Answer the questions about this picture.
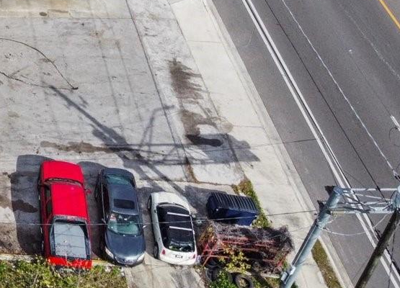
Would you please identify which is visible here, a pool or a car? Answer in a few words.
car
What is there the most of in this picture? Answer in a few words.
paved ground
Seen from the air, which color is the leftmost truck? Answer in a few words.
red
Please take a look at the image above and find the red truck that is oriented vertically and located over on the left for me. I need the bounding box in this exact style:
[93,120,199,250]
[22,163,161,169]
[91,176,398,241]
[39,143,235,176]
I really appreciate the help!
[33,155,95,269]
